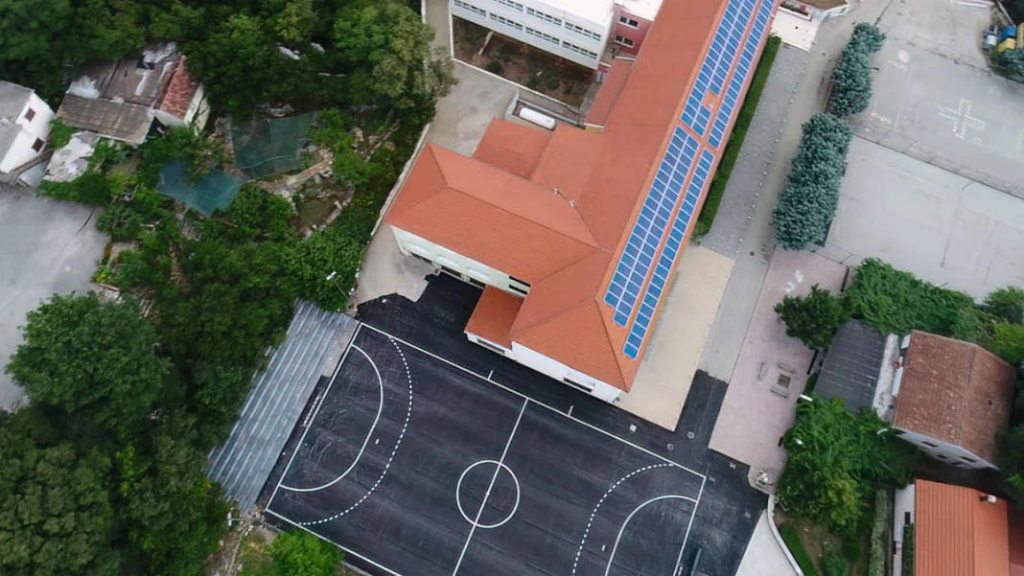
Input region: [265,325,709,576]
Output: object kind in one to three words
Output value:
sports court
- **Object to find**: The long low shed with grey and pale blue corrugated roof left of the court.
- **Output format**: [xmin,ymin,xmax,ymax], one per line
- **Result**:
[204,304,358,510]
